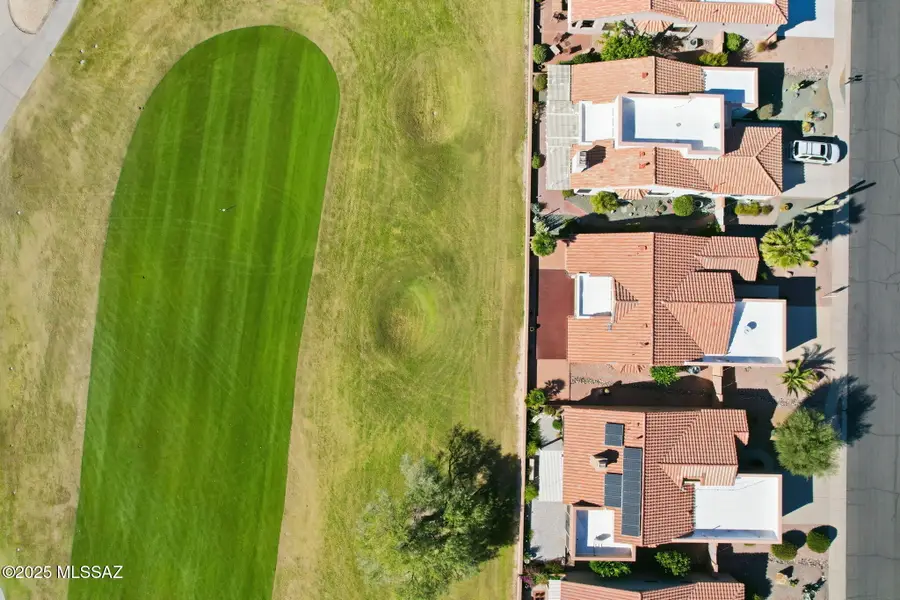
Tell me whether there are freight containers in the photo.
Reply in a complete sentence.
No, no freight container is visible in the scene.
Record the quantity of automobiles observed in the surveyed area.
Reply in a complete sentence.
My tally gives 1 automobile in this photo.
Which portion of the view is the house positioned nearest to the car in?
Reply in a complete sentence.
The house positioned nearest to the car appears toward the top right of the photo.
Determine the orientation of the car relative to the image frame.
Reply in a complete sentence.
In this picture, the car is oriented from side to side.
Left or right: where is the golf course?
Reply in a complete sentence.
The golf course is on the left side of the image.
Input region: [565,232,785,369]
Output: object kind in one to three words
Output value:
house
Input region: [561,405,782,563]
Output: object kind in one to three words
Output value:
house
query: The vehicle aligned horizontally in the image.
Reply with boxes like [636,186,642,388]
[787,139,838,163]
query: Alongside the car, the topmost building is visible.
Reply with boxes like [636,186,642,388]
[567,57,786,200]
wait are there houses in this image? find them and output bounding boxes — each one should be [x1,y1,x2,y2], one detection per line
[565,232,785,369]
[567,57,786,200]
[561,405,782,563]
[559,572,748,600]
[568,0,790,34]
